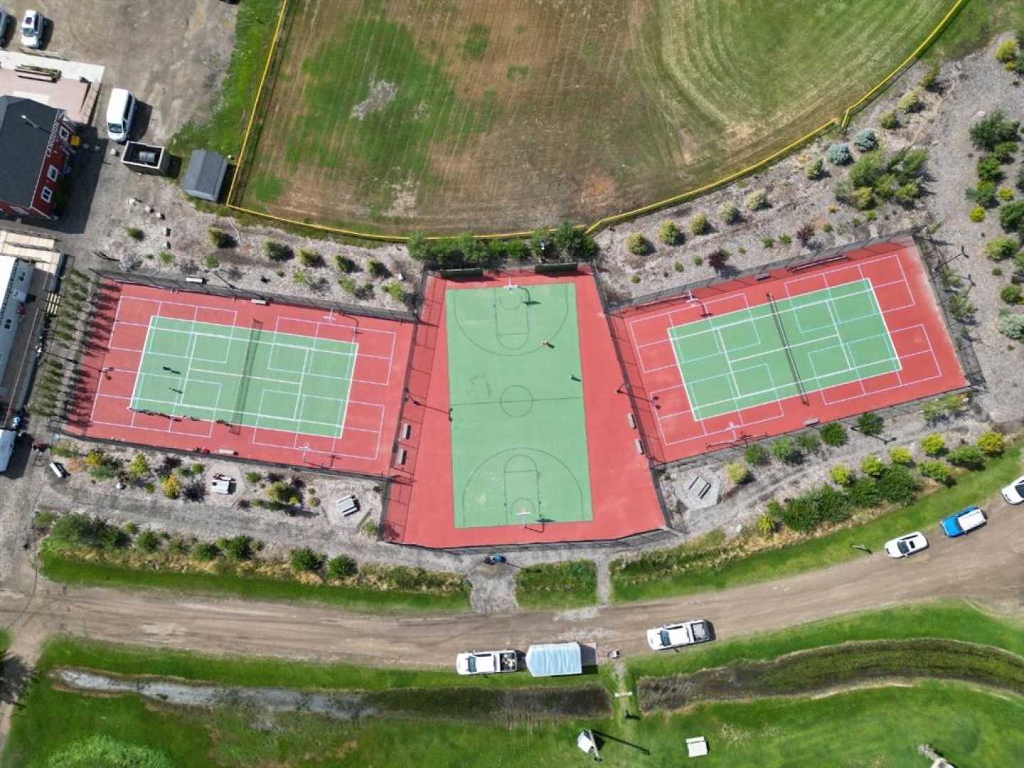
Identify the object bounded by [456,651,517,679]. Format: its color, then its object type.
white truck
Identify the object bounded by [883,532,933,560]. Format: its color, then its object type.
white car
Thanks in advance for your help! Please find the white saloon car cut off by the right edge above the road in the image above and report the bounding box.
[1000,482,1024,510]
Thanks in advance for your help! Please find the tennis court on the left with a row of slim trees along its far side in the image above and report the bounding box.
[63,278,418,477]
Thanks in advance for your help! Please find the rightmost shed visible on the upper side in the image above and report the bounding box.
[182,150,230,201]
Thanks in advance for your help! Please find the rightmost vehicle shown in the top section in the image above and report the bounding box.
[105,83,135,138]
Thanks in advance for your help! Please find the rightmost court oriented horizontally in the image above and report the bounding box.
[606,236,972,465]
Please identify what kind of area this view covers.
sports ground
